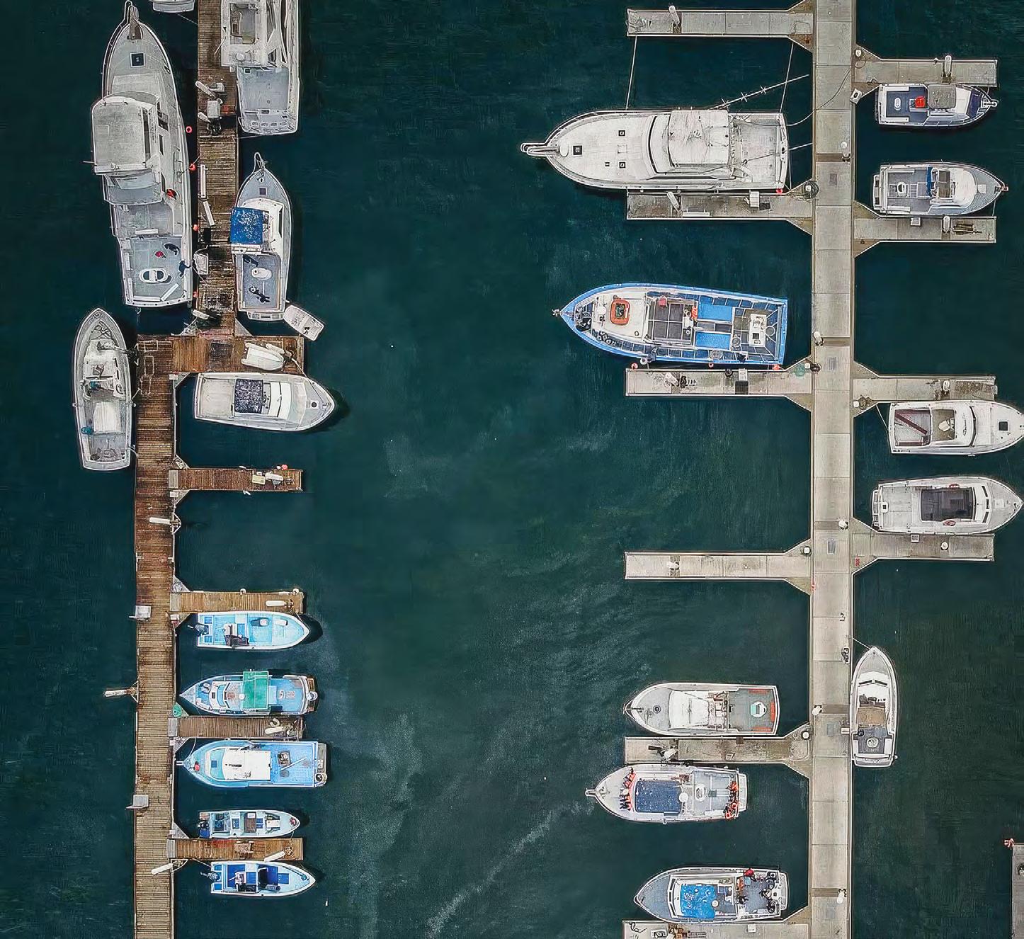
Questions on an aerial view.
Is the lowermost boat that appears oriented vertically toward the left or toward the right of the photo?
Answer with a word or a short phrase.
right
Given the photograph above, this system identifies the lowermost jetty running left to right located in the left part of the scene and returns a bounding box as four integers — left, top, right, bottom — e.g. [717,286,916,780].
[169,823,305,875]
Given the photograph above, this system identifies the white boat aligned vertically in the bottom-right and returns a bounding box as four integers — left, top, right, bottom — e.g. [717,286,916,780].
[849,645,898,767]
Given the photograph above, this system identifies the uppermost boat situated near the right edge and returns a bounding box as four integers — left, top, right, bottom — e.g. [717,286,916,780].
[875,83,999,127]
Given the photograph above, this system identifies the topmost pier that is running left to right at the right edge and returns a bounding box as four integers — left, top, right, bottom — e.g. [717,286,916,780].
[855,43,997,105]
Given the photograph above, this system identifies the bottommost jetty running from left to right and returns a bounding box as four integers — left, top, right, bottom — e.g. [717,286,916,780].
[622,905,809,939]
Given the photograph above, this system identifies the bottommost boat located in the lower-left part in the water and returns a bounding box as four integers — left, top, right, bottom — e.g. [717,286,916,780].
[196,860,317,897]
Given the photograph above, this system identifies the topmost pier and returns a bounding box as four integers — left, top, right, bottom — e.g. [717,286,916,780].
[627,0,813,54]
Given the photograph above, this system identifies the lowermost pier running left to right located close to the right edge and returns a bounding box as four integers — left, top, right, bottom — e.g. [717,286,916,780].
[853,517,994,576]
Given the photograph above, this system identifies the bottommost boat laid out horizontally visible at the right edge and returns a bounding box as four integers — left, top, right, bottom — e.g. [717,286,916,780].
[871,476,1023,535]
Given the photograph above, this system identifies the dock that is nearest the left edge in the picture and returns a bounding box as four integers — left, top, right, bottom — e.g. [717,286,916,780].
[135,372,177,939]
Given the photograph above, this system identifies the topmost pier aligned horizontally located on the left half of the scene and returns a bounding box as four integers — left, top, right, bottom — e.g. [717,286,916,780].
[169,455,305,506]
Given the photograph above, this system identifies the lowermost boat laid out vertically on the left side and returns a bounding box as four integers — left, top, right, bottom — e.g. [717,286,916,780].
[71,307,136,472]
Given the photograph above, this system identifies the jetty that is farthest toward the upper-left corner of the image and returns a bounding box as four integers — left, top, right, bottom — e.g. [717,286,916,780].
[197,0,241,336]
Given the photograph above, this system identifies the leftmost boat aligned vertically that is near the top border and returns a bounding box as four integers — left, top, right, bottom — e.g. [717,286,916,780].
[83,1,197,312]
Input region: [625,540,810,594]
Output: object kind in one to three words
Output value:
pier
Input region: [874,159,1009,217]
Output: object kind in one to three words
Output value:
boat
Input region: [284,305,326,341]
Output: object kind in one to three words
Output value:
boat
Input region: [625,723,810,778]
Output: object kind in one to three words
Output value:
pier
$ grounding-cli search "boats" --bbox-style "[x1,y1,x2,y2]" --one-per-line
[875,83,999,127]
[634,866,787,924]
[196,860,317,897]
[83,1,197,312]
[214,0,305,140]
[586,762,747,825]
[151,0,198,13]
[71,307,136,472]
[871,476,1023,535]
[849,645,898,767]
[190,610,311,650]
[176,739,329,788]
[230,153,293,321]
[284,305,326,341]
[552,282,789,364]
[179,669,326,716]
[199,809,301,839]
[890,399,1024,457]
[626,681,780,737]
[521,74,809,192]
[874,159,1009,217]
[194,373,337,431]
